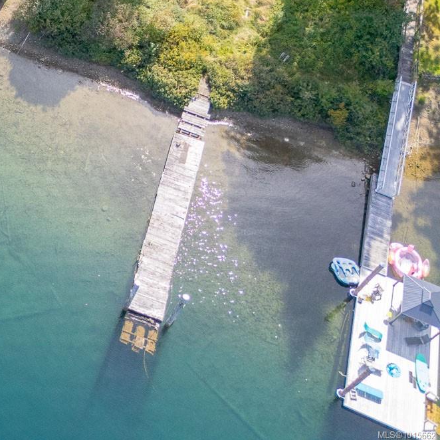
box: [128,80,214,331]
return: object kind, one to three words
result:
pier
